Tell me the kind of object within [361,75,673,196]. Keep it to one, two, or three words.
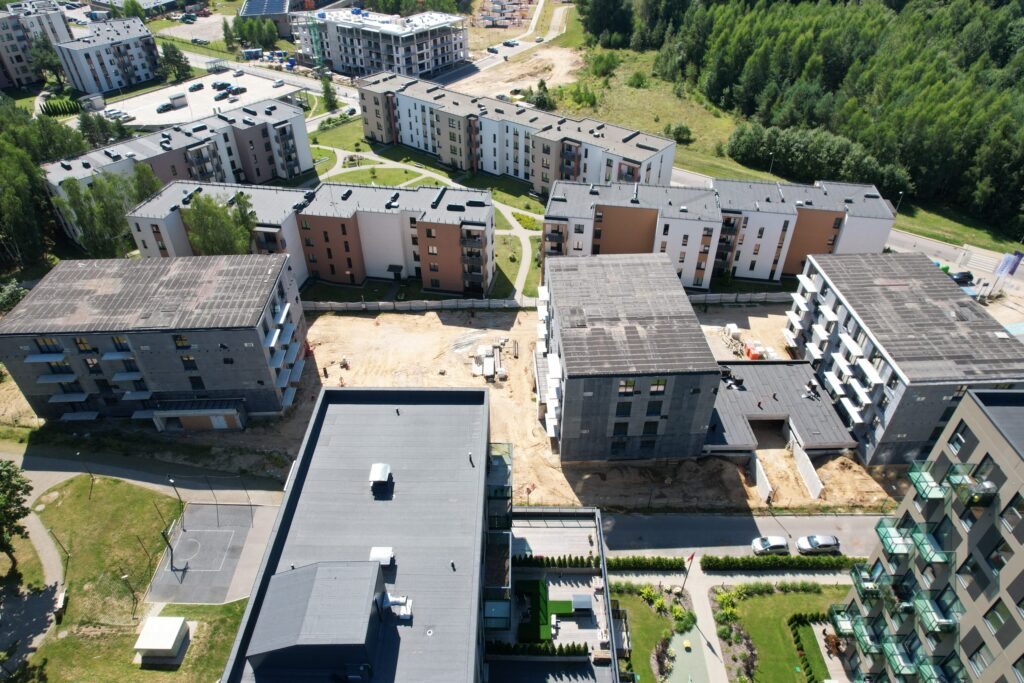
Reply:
building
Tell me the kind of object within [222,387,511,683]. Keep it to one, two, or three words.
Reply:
building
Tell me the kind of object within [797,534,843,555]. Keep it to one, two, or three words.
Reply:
car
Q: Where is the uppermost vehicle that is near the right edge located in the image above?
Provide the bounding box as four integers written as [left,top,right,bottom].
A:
[947,269,978,282]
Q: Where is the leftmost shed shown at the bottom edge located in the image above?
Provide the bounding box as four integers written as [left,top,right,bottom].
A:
[135,617,199,668]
